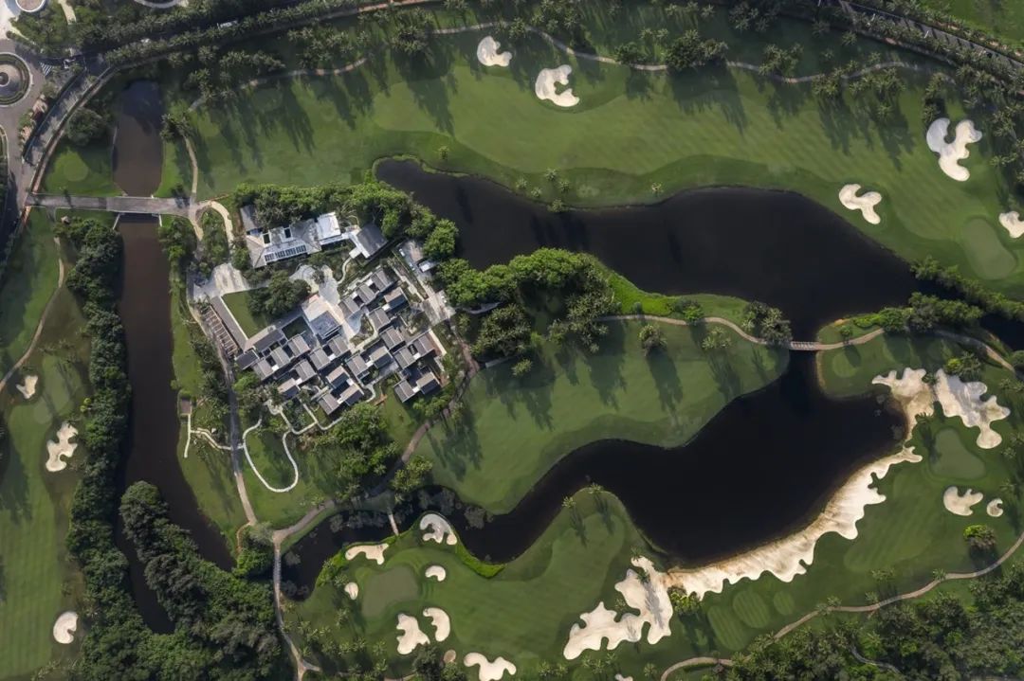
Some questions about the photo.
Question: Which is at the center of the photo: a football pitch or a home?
home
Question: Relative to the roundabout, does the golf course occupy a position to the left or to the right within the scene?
on its right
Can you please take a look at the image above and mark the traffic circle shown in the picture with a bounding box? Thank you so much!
[0,46,33,109]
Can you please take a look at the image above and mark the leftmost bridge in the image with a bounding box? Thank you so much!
[104,191,172,230]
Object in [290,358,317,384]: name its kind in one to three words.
house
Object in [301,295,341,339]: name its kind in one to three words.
building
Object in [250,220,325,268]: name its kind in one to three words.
building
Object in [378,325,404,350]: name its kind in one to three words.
house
